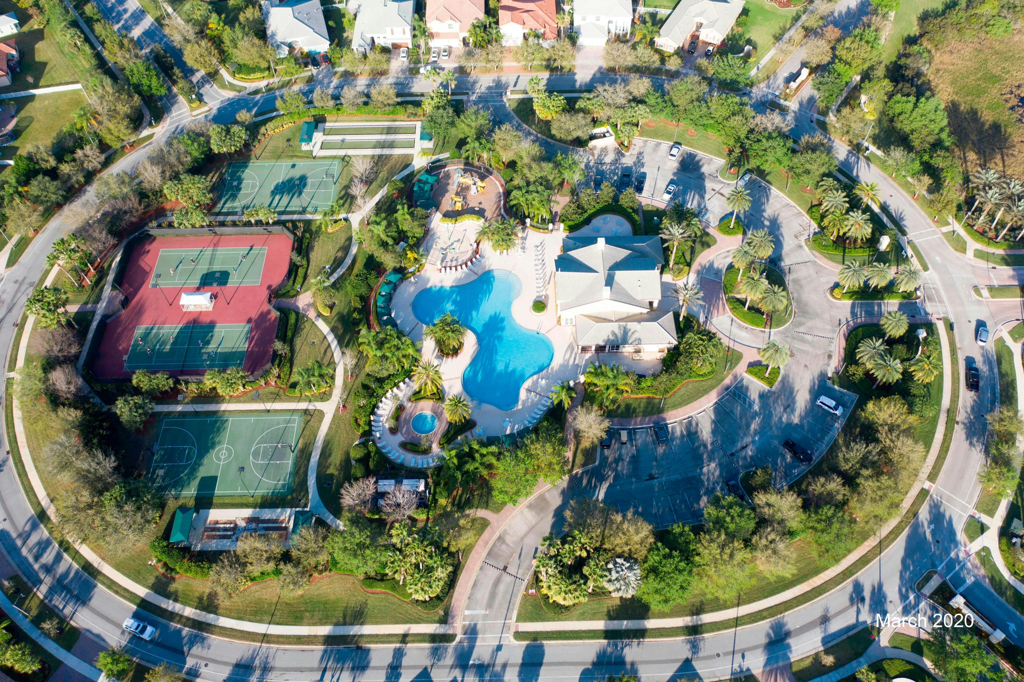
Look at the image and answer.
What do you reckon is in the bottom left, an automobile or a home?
automobile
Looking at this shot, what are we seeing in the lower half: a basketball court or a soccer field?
basketball court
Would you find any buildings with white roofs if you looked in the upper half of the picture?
Yes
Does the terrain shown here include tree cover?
Yes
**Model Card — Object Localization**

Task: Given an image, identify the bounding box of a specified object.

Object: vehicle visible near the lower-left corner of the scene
[123,617,155,640]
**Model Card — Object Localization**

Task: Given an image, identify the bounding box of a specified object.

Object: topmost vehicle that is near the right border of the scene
[975,326,990,347]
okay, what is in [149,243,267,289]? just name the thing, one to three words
tennis court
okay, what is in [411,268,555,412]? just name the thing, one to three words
swimming pool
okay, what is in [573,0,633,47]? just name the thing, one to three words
house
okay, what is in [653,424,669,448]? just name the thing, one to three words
car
